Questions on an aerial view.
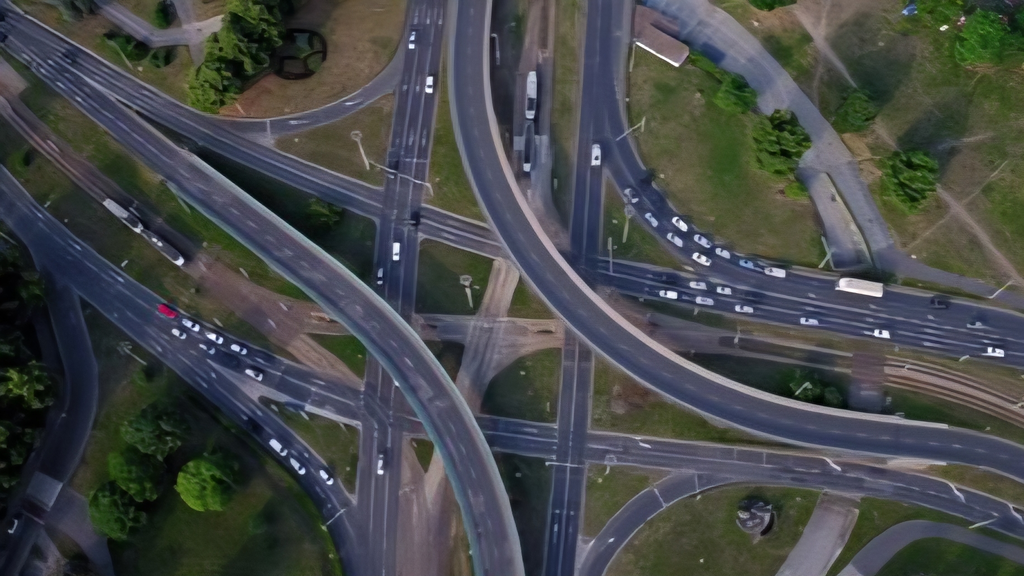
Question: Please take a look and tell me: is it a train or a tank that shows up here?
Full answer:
This aerial view contains a train.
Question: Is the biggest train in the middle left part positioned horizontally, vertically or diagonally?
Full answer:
In this picture, the biggest train in the middle left part lies diagonally.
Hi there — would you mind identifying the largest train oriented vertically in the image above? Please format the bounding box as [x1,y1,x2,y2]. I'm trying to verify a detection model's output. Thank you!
[522,74,537,174]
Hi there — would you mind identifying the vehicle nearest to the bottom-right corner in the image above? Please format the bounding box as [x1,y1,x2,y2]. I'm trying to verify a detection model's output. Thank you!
[985,345,1006,360]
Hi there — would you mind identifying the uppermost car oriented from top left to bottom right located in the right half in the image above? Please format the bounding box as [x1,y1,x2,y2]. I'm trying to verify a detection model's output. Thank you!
[624,187,641,205]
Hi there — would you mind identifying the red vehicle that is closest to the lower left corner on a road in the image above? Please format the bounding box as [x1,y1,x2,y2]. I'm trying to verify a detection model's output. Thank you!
[156,302,178,320]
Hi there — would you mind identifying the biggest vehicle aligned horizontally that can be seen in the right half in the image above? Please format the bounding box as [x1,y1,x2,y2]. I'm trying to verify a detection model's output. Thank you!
[836,279,884,298]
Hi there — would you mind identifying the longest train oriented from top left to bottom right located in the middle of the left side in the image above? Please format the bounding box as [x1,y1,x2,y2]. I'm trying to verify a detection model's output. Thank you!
[105,199,186,267]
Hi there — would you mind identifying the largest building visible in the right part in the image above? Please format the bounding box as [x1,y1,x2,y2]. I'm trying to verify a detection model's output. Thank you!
[635,5,688,69]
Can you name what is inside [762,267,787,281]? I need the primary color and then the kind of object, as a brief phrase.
white vehicle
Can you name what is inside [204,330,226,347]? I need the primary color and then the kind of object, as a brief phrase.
white car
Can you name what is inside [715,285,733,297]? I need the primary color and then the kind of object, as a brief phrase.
white vehicle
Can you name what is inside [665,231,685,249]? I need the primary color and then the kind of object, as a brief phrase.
white car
